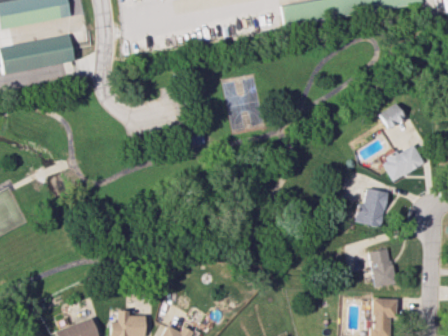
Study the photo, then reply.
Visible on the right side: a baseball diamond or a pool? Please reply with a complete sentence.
You can see a pool on the right side.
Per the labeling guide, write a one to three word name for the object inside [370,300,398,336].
house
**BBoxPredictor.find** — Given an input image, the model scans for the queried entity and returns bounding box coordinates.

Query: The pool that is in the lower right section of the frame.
[340,296,372,336]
